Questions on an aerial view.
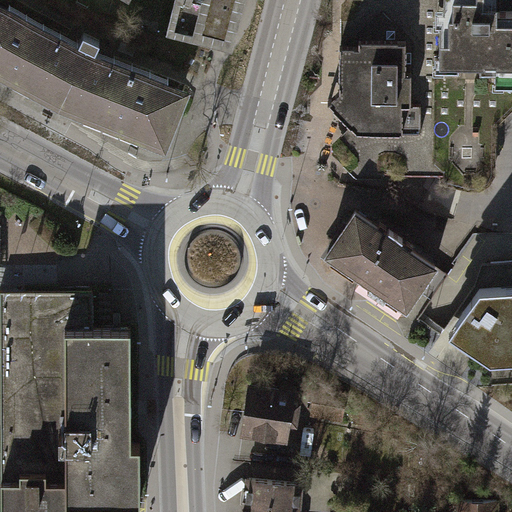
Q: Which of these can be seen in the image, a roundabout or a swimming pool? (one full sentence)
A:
The one in the frame is a roundabout.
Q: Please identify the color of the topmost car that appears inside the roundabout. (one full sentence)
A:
The color of the topmost car that appears inside the roundabout is black.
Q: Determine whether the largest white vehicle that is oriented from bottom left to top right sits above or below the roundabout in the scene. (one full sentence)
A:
As seen from overhead, the largest white vehicle that is oriented from bottom left to top right falls below the roundabout in the picture.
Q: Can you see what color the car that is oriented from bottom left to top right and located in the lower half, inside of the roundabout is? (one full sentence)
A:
The color of the car that is oriented from bottom left to top right and located in the lower half, inside of the roundabout is black.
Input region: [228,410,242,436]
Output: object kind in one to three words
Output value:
car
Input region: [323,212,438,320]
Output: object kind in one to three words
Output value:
house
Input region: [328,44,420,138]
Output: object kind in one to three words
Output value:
building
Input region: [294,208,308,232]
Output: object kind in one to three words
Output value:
vehicle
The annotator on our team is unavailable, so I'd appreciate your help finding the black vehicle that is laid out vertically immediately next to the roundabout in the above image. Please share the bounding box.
[196,341,210,368]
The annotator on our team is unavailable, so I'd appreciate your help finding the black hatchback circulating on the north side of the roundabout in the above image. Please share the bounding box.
[190,191,210,214]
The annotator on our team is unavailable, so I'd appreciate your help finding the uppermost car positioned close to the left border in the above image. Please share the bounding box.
[22,172,47,190]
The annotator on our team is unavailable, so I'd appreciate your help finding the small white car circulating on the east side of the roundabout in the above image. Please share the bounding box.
[255,228,272,248]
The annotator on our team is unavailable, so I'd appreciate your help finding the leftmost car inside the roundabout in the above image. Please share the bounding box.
[161,288,182,309]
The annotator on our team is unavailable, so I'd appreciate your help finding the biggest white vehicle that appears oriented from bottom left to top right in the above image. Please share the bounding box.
[216,476,246,503]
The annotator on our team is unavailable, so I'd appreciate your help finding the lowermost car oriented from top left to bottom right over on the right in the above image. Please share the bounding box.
[304,289,329,310]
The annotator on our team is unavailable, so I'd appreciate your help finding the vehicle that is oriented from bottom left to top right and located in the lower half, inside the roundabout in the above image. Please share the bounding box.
[220,304,244,328]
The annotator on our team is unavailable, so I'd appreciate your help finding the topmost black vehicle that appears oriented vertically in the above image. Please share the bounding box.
[276,102,289,130]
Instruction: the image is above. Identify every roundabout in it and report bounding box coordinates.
[138,188,286,336]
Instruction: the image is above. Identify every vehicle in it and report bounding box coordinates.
[316,149,329,172]
[161,288,182,309]
[294,208,308,232]
[300,424,315,458]
[100,214,129,237]
[196,341,210,368]
[254,304,273,314]
[190,191,210,214]
[22,172,47,190]
[255,228,272,248]
[276,102,289,130]
[216,476,246,503]
[228,410,242,436]
[220,304,244,328]
[304,289,329,310]
[190,416,202,443]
